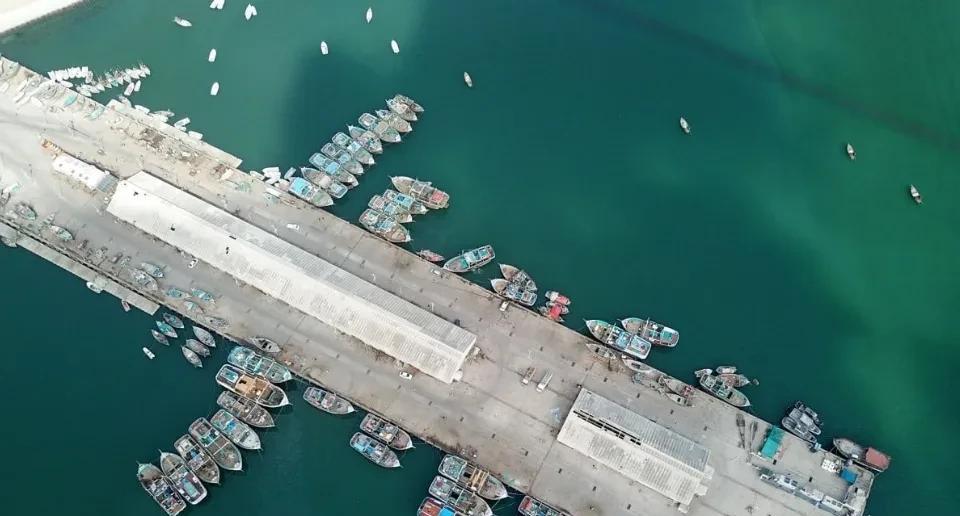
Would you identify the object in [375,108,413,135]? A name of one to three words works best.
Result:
boat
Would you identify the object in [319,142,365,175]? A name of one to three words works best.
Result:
boat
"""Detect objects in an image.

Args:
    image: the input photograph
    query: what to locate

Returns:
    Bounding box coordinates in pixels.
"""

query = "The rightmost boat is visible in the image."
[910,184,924,205]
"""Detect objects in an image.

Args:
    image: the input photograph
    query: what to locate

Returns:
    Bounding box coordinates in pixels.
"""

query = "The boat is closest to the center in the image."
[441,243,495,270]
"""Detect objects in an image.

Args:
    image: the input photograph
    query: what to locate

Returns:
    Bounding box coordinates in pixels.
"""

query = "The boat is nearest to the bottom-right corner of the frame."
[832,435,894,473]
